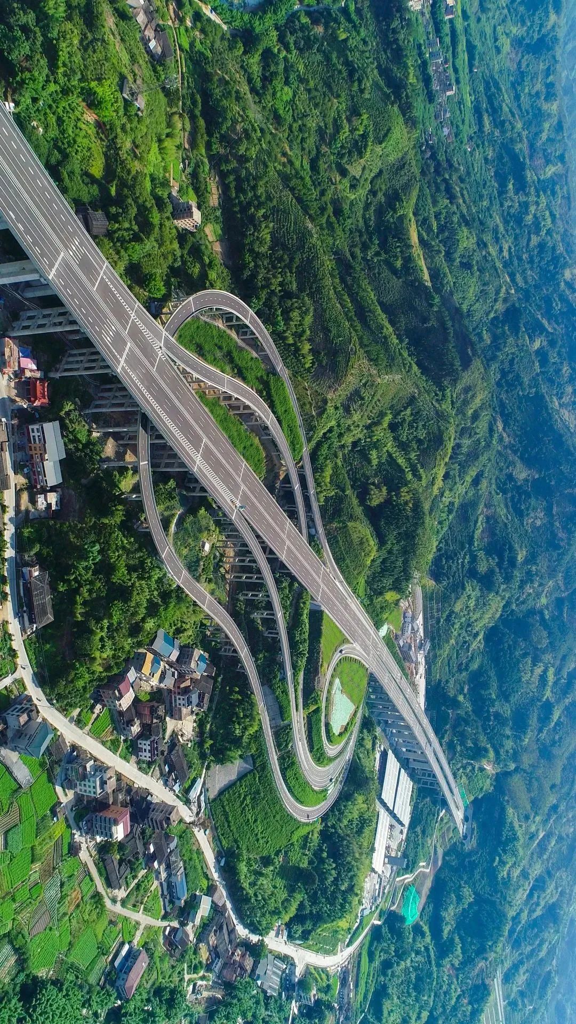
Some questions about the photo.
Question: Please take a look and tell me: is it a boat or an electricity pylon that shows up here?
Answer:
electricity pylon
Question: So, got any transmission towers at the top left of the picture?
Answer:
Yes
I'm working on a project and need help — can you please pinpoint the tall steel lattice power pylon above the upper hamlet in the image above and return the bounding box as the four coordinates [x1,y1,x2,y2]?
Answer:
[130,68,182,98]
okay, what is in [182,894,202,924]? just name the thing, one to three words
shed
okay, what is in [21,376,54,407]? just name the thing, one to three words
building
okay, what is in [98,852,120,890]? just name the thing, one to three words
house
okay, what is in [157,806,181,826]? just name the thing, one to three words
house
